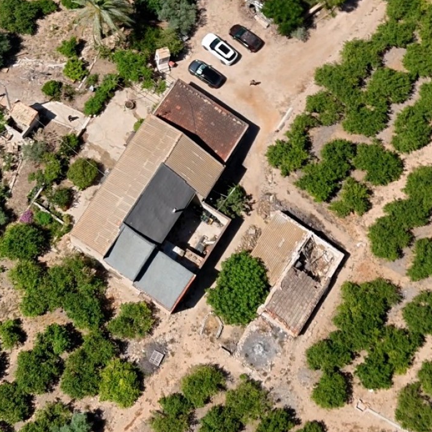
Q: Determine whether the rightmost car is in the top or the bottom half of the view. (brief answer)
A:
top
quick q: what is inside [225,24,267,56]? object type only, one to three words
car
